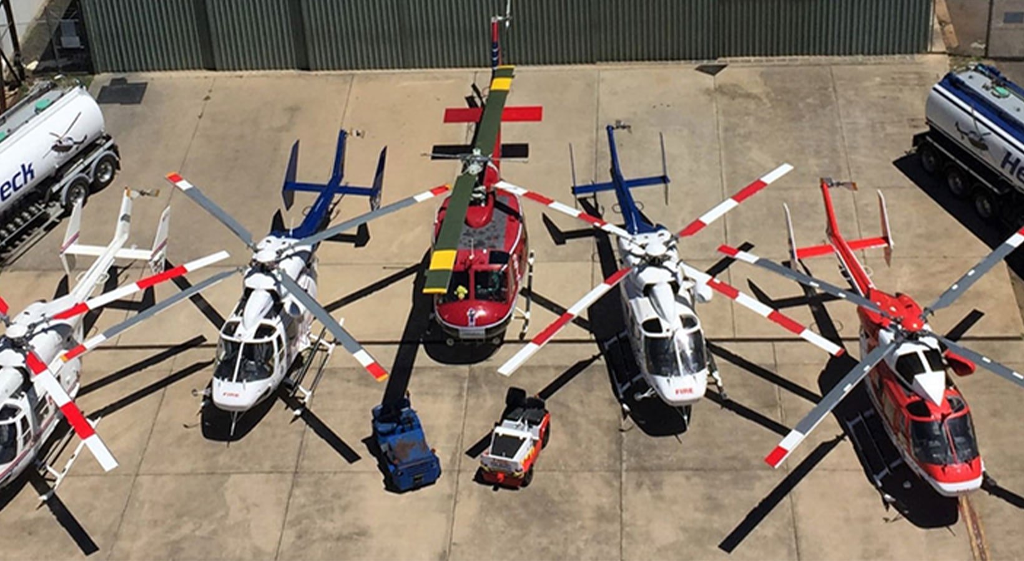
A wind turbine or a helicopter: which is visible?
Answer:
helicopter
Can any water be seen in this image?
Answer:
No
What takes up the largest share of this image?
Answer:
paved ground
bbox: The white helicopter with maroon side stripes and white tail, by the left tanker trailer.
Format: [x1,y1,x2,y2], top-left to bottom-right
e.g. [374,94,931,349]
[0,183,229,497]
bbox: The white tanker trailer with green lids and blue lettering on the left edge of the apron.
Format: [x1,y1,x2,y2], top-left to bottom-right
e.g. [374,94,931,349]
[0,76,136,256]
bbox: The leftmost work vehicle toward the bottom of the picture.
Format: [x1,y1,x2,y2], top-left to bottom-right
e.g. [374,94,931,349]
[371,387,435,491]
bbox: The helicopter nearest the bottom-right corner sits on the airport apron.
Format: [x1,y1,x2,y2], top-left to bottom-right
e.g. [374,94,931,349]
[720,176,1024,499]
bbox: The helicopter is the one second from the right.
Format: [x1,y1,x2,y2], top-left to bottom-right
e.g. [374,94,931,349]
[495,117,844,440]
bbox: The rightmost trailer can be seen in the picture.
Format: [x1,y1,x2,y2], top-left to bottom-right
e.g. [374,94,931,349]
[898,59,1024,222]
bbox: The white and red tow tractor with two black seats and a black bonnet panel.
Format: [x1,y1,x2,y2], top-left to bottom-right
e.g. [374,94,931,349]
[478,389,549,496]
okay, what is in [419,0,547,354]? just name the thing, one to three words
helicopter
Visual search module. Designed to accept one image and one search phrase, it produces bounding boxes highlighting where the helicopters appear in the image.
[0,183,229,497]
[419,0,547,354]
[495,117,844,440]
[720,176,1024,499]
[62,123,451,445]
